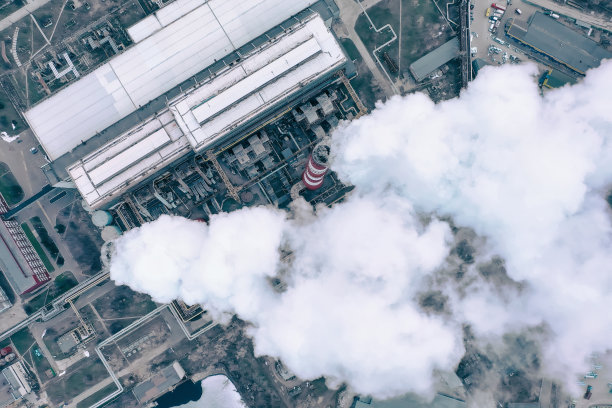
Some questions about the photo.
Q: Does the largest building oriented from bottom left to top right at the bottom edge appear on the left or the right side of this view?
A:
left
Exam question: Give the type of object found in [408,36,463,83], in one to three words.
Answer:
building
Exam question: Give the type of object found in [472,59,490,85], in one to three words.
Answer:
shed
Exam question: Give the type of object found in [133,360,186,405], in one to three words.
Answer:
building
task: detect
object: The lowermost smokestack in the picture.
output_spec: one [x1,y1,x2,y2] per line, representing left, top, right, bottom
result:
[192,213,209,226]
